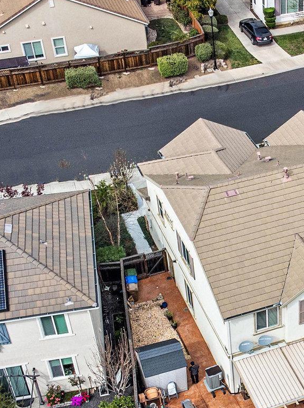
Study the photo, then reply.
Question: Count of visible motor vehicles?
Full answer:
The photo contains exactly 1 motor vehicle.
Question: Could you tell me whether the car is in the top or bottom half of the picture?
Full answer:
The top half of the photo is where the car is.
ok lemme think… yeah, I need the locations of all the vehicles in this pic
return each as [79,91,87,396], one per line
[239,17,275,39]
